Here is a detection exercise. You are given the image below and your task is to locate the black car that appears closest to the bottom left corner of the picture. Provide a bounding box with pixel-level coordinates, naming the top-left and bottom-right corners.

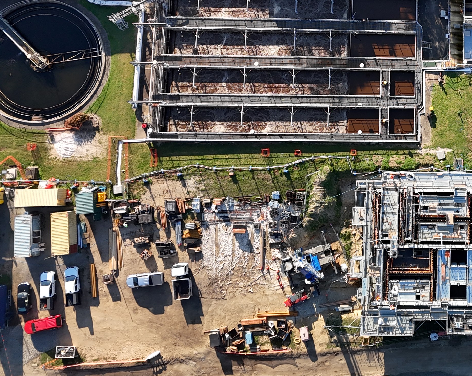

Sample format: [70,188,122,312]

[15,283,33,315]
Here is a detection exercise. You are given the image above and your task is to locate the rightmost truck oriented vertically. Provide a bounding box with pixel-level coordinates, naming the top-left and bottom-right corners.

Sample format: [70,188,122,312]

[170,261,191,305]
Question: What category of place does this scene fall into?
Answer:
industrial area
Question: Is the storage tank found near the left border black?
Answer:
Yes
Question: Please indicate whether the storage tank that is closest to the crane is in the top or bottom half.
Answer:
top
